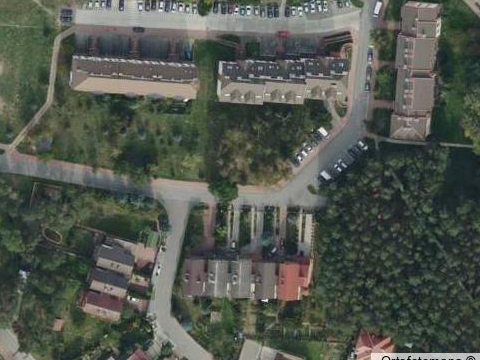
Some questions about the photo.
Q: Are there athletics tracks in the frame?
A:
No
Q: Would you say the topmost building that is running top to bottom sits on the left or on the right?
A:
right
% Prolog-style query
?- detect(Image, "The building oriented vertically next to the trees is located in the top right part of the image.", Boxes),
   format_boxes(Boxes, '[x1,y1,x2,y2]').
[390,1,443,140]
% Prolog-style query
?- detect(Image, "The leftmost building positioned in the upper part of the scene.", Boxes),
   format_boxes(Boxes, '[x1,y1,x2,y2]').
[72,56,197,101]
